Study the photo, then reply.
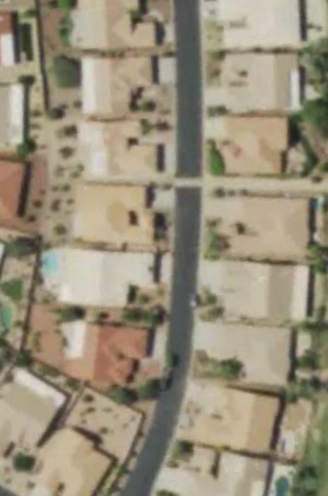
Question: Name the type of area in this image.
residential area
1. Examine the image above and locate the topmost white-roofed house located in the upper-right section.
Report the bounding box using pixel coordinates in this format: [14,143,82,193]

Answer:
[217,0,297,47]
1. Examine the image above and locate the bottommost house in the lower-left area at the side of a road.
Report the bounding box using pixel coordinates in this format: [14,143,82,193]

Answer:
[37,433,117,496]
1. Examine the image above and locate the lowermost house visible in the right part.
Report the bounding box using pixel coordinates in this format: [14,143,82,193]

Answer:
[182,448,266,496]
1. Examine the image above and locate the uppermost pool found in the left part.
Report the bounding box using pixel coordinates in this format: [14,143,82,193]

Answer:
[41,251,59,278]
